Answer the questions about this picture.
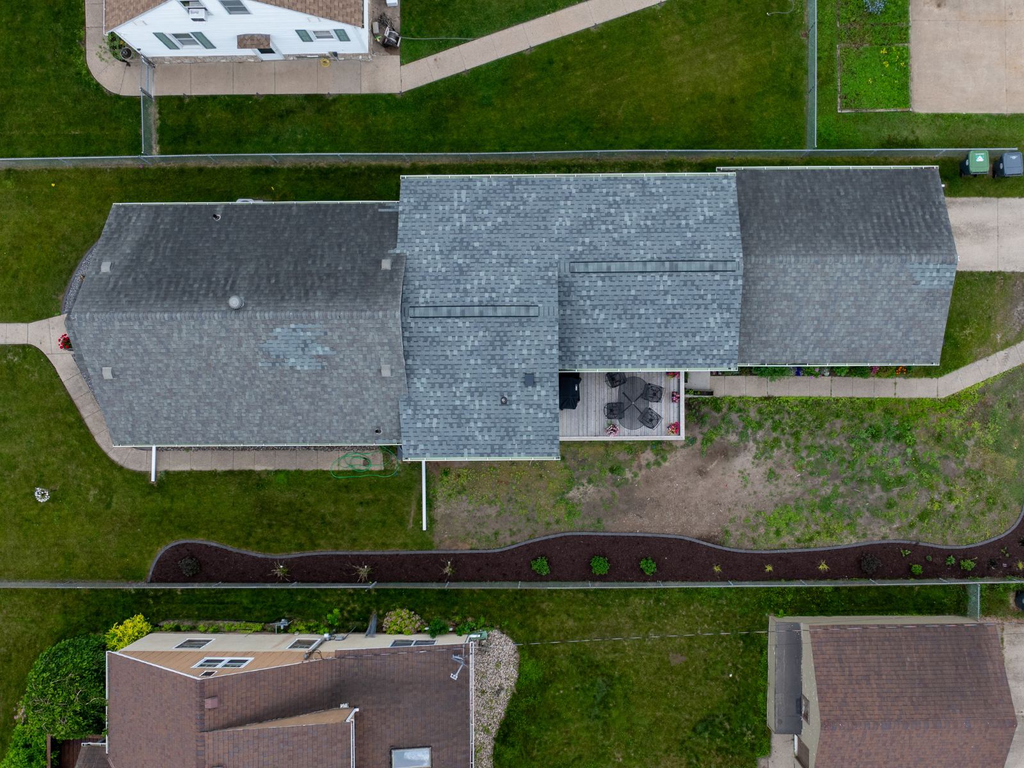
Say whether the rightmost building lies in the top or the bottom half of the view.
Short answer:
bottom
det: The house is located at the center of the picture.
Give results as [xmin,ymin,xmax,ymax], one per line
[64,165,961,529]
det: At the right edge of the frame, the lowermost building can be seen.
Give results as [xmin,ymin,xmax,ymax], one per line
[786,614,1017,768]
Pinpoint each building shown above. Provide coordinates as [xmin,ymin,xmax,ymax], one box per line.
[64,165,961,529]
[103,0,374,64]
[786,614,1017,768]
[76,620,477,768]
